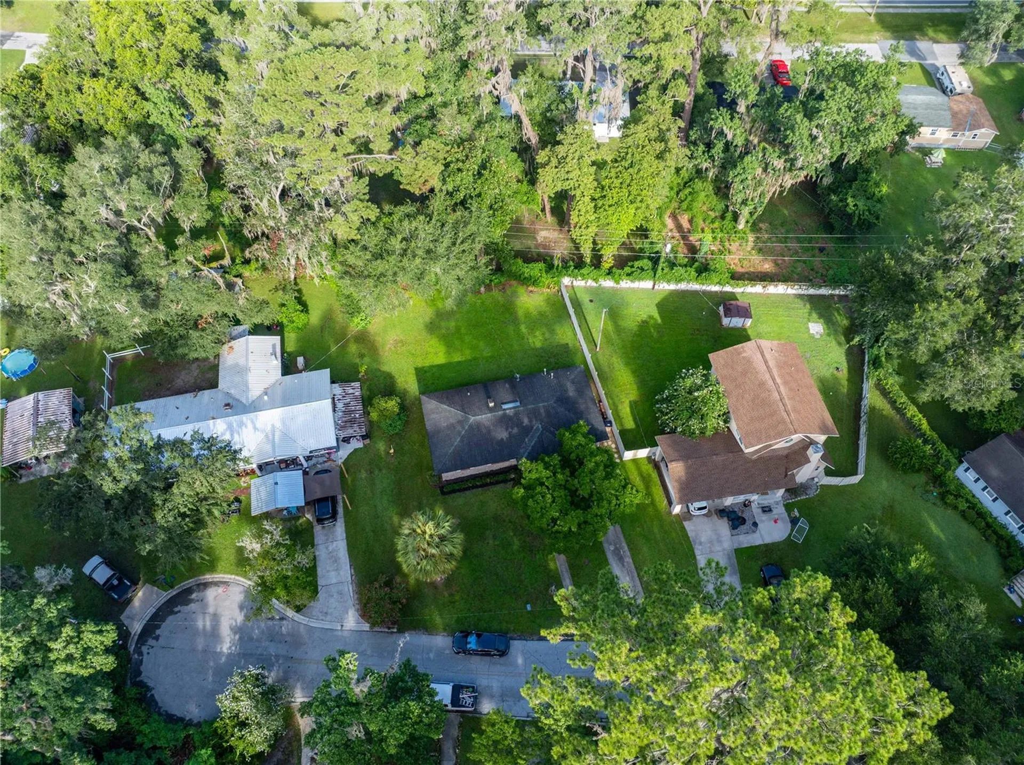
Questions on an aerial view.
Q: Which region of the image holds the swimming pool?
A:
left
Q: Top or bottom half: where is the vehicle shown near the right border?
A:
top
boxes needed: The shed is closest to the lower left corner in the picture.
[1,389,83,476]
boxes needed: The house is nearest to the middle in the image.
[421,366,609,497]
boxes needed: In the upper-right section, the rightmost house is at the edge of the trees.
[892,86,1006,155]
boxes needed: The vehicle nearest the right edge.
[935,66,973,91]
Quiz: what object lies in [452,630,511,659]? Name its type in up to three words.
car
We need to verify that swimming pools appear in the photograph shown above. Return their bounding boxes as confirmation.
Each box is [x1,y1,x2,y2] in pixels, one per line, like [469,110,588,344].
[3,353,45,381]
